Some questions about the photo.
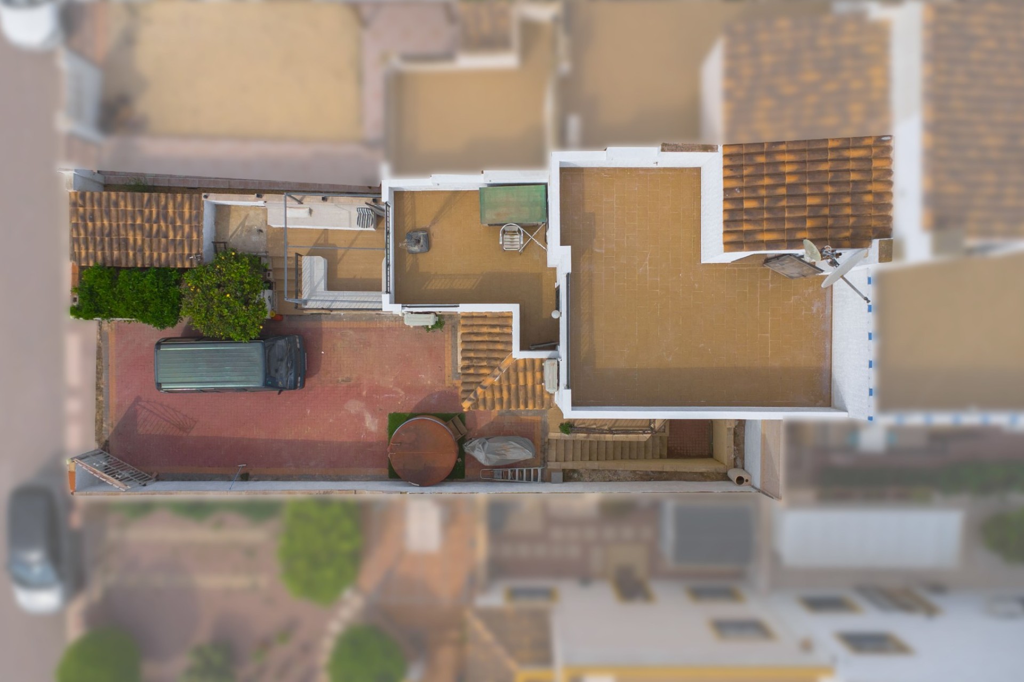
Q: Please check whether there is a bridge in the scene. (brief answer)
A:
No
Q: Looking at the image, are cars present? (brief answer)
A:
Yes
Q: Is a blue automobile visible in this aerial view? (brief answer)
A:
No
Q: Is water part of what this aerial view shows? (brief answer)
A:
No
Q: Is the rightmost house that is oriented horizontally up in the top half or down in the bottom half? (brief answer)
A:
bottom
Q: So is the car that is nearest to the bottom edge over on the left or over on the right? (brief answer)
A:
left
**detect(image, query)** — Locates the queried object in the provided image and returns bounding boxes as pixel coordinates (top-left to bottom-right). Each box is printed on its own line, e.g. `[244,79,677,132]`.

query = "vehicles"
[154,332,308,398]
[1,0,65,55]
[2,482,74,610]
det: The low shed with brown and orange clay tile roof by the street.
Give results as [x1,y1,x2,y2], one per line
[70,190,215,269]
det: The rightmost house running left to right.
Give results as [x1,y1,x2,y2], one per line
[784,585,1024,682]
